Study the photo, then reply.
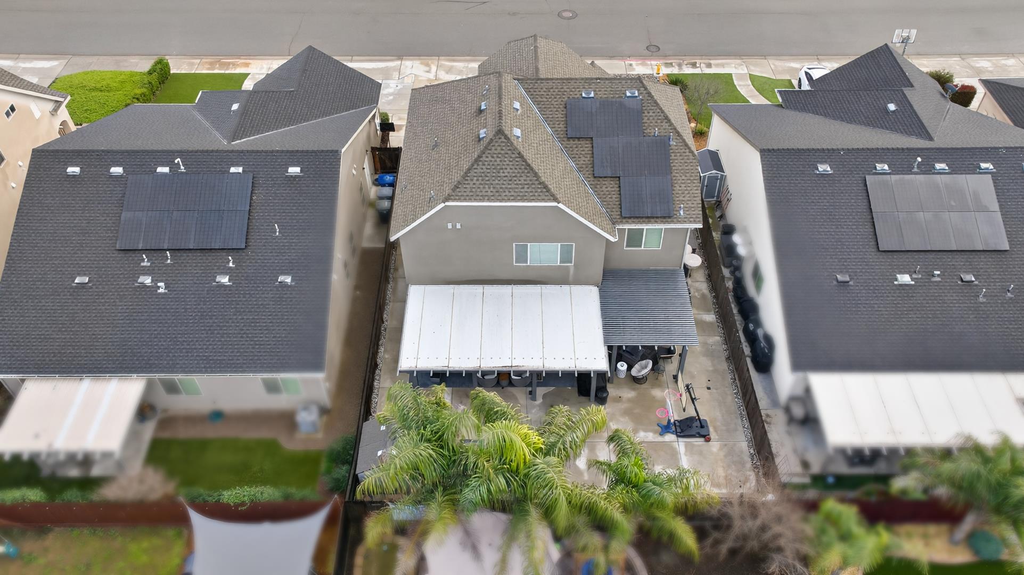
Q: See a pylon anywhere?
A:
No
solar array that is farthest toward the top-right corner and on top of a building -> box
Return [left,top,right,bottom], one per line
[867,174,1010,250]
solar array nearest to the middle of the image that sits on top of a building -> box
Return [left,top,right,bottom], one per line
[567,98,678,216]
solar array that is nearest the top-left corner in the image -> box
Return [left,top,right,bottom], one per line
[112,173,252,248]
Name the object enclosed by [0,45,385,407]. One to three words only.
house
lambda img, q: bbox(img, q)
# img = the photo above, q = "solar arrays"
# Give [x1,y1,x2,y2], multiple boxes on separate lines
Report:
[112,173,252,248]
[867,174,1010,250]
[567,98,678,216]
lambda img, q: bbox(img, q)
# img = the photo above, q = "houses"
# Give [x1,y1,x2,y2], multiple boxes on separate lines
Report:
[707,45,1024,407]
[0,45,385,407]
[386,34,703,289]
